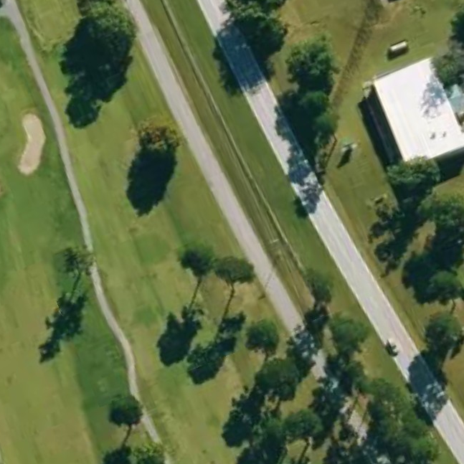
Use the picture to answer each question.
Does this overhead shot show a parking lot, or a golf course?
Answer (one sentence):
It's a golf course.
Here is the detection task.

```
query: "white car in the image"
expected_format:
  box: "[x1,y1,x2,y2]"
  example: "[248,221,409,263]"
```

[387,335,399,352]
